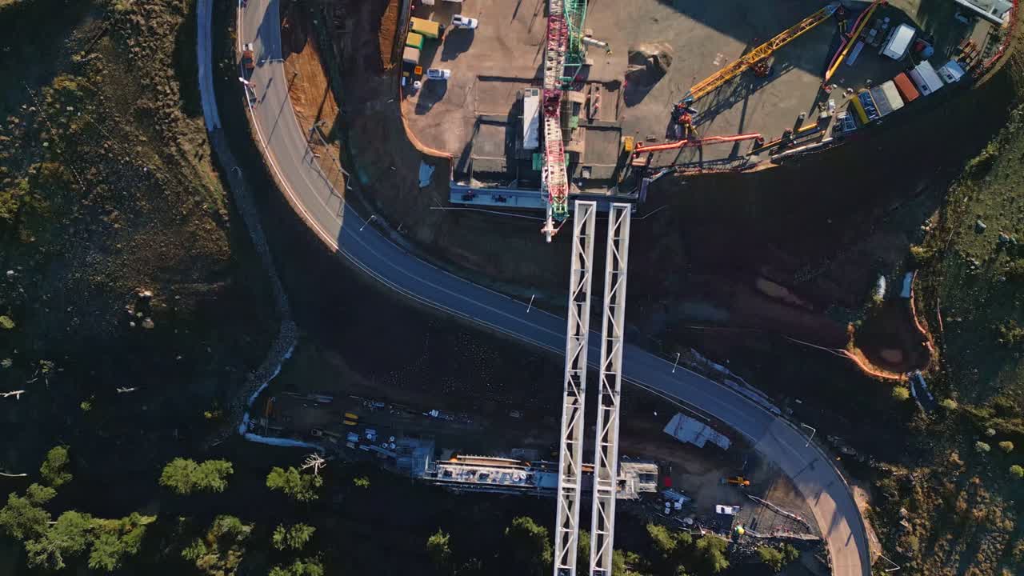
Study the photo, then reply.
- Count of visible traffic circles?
0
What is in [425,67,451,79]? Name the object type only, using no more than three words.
vehicle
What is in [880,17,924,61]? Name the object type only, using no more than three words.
building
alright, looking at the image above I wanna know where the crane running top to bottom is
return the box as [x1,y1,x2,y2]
[541,0,595,242]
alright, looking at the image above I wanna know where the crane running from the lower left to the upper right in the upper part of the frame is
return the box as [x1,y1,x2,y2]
[671,4,842,138]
